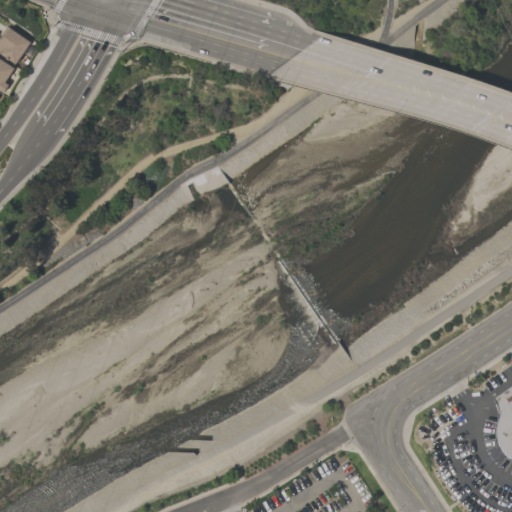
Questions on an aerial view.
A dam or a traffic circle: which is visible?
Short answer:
dam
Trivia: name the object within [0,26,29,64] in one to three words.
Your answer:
house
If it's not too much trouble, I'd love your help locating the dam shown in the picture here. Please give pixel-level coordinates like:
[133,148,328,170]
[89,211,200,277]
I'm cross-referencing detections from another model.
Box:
[220,167,352,359]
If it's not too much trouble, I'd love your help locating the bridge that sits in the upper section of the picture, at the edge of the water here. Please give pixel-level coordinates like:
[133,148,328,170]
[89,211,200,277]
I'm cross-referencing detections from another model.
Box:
[271,32,512,149]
